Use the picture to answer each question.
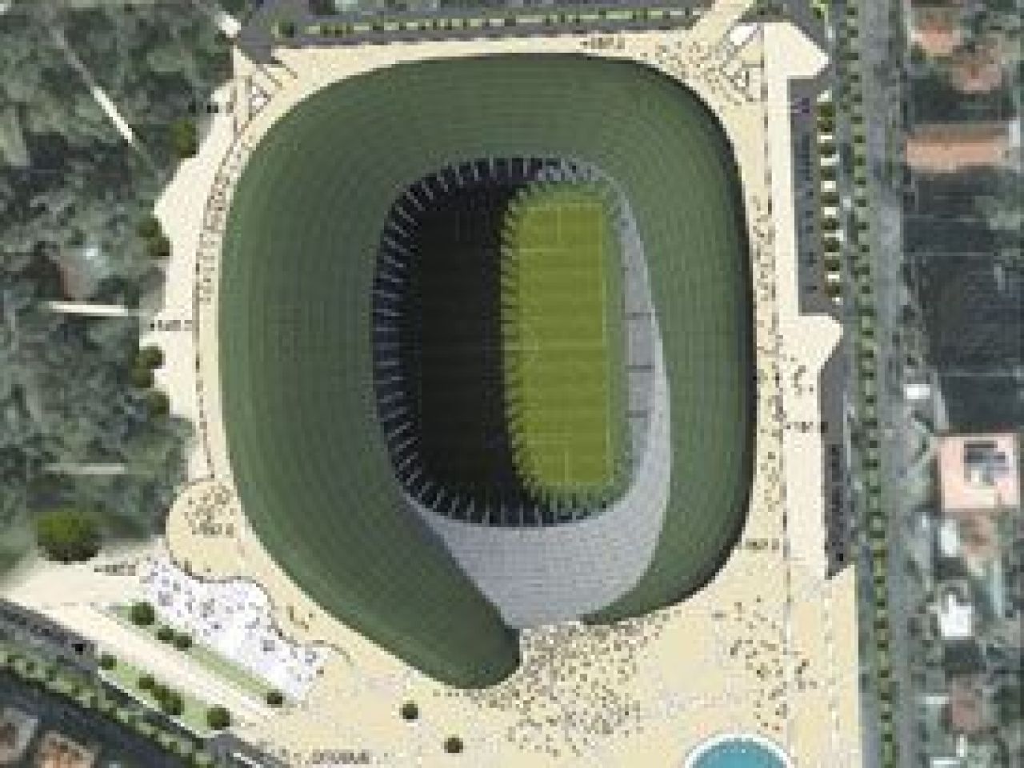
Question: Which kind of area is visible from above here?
sports ground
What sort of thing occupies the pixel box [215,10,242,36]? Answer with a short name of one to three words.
building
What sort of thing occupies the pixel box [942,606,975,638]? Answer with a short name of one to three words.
house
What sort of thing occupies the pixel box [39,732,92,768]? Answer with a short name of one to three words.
house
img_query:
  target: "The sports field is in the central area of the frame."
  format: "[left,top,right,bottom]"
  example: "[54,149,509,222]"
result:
[422,204,614,483]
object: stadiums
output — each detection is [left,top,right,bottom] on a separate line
[218,50,758,691]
